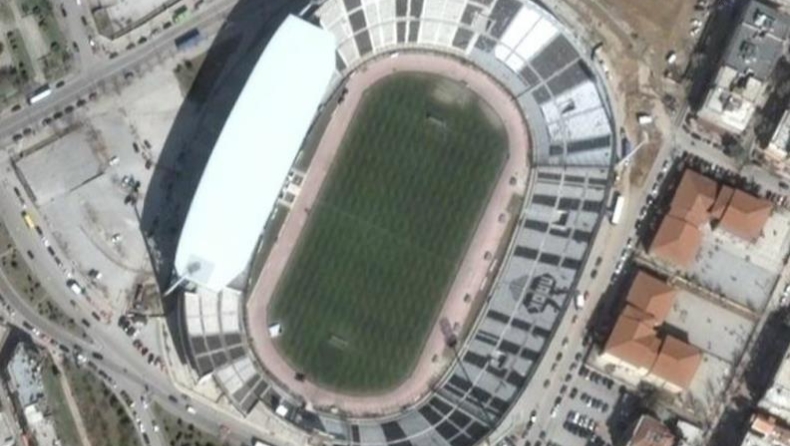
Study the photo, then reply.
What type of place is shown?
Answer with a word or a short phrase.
sports ground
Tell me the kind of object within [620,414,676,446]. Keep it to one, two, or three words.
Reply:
house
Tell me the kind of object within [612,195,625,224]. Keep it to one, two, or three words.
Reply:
vehicle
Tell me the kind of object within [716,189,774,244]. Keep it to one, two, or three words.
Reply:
building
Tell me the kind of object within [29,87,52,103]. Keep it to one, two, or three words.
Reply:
vehicle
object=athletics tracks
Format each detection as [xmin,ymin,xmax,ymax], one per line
[247,52,529,415]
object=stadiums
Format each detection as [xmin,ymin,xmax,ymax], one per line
[169,0,619,446]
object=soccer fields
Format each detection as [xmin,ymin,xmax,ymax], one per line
[267,71,509,394]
